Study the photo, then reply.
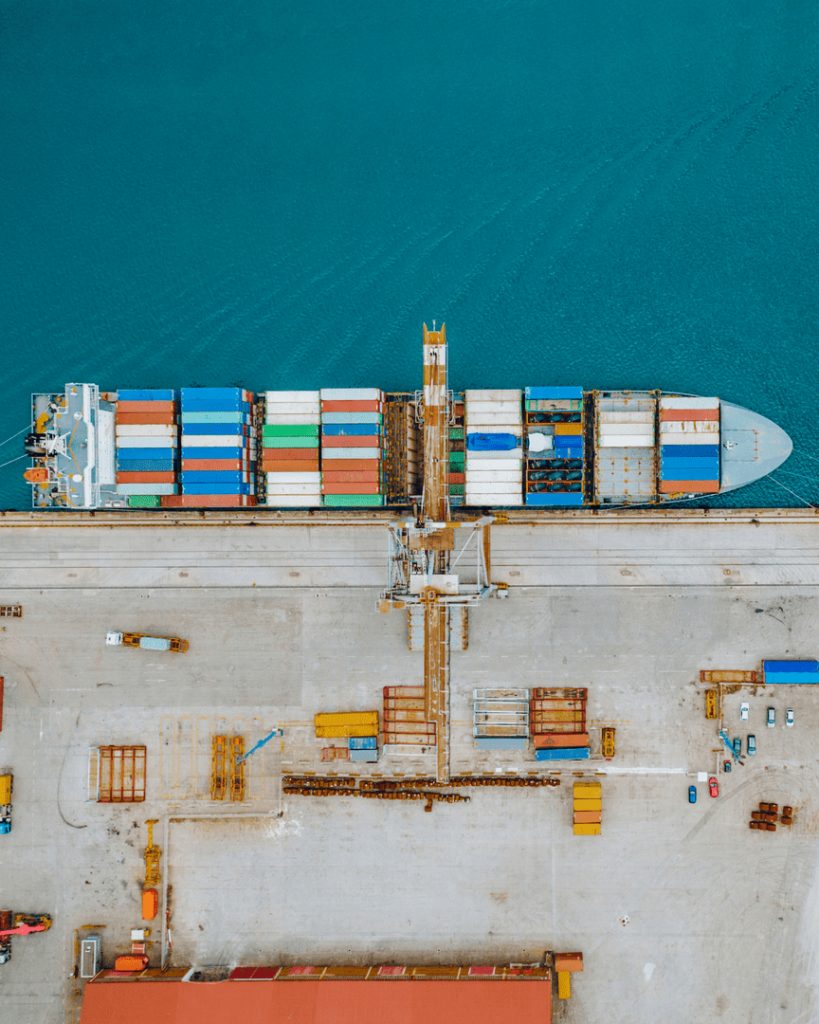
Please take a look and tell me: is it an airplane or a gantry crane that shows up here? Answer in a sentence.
It is a gantry crane that can be seen here.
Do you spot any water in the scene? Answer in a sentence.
Yes, water can be seen from above here.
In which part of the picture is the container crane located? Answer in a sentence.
The container crane sits in the center section of the image.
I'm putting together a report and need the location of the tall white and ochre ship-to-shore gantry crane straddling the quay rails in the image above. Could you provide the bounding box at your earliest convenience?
[375,320,508,783]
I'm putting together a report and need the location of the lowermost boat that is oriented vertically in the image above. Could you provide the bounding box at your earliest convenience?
[145,884,158,919]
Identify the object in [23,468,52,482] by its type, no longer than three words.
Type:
boat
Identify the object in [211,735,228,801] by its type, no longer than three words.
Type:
trailer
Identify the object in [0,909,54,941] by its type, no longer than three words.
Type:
work vehicle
